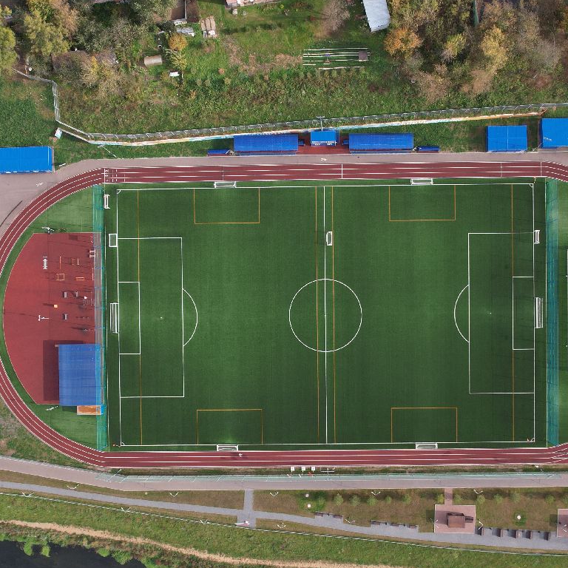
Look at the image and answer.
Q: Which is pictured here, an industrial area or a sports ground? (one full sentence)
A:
This looks like a sports ground.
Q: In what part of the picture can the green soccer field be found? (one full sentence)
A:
The green soccer field sits in the center section of the image.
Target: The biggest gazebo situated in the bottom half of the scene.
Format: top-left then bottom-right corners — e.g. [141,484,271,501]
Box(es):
[445,513,465,528]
